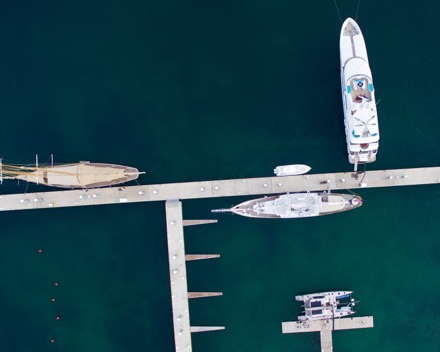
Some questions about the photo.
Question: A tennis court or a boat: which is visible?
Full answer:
There is a boat in the scene.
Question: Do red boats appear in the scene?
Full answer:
No, no red boat can be seen from above.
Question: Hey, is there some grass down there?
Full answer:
No, no grass is visible.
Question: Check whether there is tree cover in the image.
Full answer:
No, tree cover can't be seen anywhere here.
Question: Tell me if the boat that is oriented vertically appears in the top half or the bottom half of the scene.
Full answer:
The boat that is oriented vertically sits in the top half of the picture.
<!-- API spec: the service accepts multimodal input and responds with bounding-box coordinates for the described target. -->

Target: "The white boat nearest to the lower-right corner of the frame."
[296,291,361,331]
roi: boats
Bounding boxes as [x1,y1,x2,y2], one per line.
[296,291,361,331]
[211,186,364,219]
[0,153,144,193]
[274,164,311,175]
[335,0,381,174]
